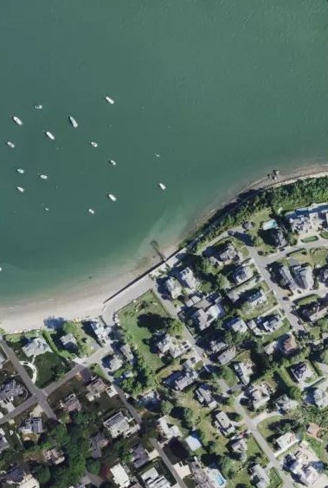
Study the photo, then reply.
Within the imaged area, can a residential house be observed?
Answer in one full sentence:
Yes, there is a residential house in the image.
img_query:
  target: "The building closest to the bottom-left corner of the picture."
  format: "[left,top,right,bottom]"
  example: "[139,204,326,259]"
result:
[1,464,25,487]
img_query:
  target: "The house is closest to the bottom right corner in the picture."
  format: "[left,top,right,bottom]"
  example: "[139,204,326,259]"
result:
[303,466,328,488]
